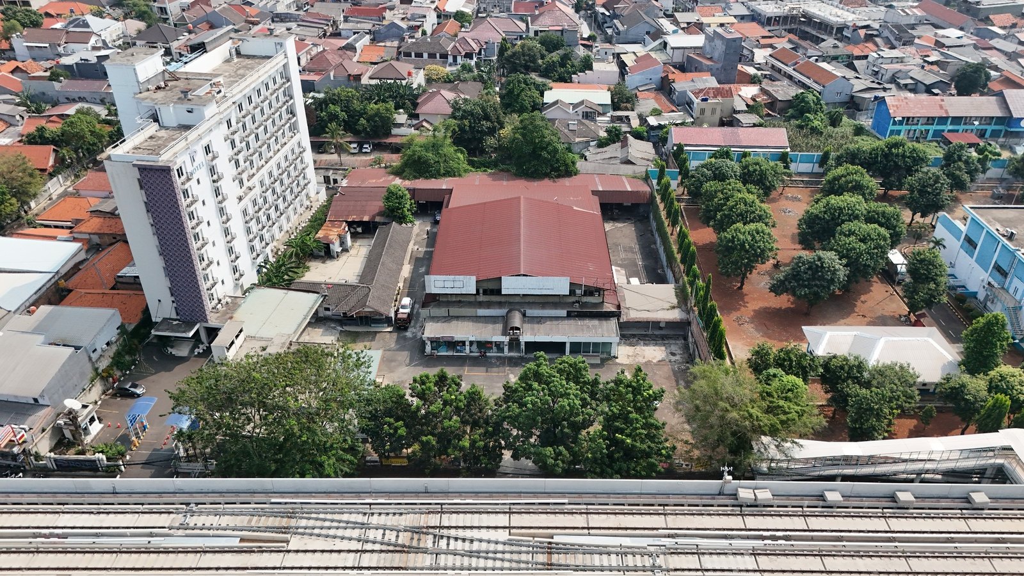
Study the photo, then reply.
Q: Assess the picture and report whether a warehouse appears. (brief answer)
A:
Yes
